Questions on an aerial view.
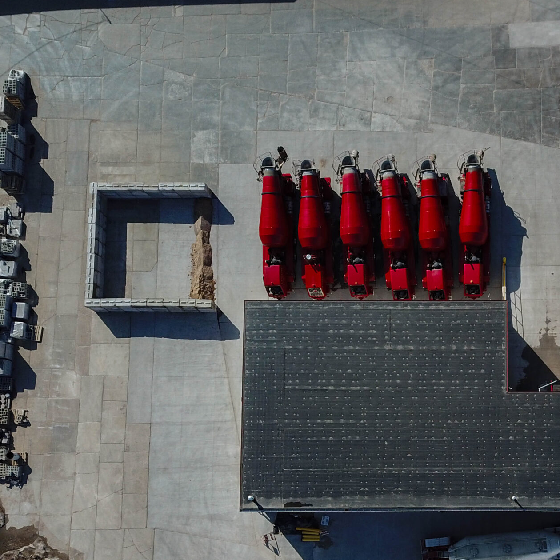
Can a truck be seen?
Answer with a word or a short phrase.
Yes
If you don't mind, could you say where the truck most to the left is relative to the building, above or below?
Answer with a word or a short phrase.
above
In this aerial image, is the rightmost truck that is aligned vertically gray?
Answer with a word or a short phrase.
No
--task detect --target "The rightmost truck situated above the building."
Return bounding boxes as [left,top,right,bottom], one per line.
[457,150,493,300]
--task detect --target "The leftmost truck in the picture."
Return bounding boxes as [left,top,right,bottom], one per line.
[257,147,293,300]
